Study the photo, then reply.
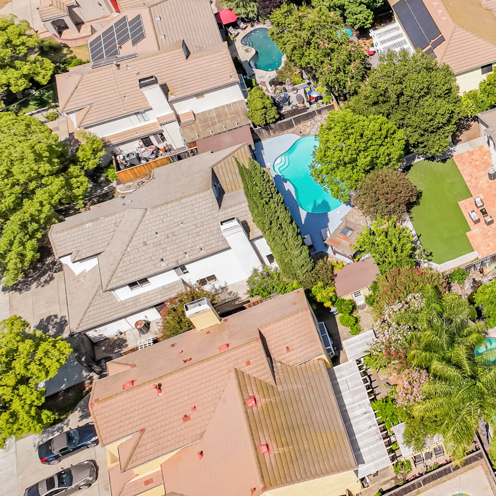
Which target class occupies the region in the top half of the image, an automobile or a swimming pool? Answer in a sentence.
It is a swimming pool that can be seen in the top half of the image.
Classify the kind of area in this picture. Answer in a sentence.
What you see here is a residential area.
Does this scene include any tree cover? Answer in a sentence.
Yes, some tree cover is visible.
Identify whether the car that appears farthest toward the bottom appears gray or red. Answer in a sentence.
The car that appears farthest toward the bottom looks gray in the image.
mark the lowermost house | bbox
[87,289,373,496]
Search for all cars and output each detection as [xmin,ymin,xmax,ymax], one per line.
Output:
[35,422,101,464]
[22,459,96,496]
